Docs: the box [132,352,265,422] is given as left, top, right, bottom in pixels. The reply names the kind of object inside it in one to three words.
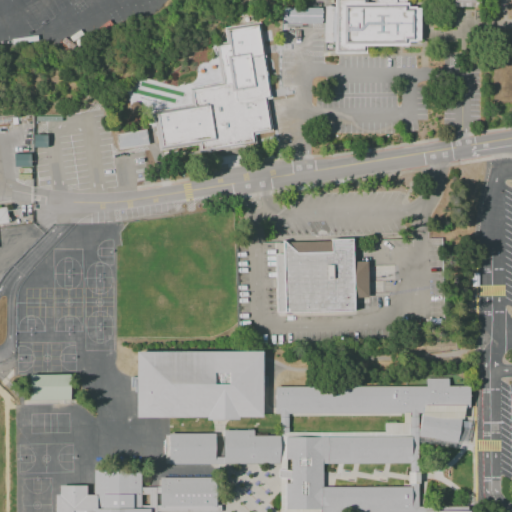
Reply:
building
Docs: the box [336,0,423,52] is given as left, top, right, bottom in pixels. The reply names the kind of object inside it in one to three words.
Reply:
building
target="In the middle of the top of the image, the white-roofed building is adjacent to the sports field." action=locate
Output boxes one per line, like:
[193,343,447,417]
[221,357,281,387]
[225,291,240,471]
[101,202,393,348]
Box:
[157,22,274,151]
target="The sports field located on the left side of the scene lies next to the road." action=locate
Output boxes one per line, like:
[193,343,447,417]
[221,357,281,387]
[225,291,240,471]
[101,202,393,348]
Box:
[117,212,236,337]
